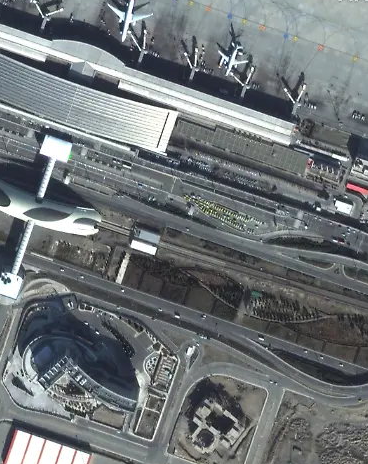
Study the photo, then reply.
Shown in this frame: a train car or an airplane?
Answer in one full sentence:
Of the two, only an airplane appears.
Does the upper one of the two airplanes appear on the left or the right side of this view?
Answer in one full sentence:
You can find the upper one of the two airplanes on the left side of the picture.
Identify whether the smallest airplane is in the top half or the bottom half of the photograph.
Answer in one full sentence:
The top half of the photo is where the smallest airplane is.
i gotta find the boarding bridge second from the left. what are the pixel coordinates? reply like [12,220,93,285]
[127,28,148,61]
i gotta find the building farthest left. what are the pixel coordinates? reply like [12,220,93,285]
[0,265,24,300]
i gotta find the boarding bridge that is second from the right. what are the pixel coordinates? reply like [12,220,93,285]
[229,64,254,97]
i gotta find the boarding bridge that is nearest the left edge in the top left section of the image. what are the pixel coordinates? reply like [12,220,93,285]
[33,0,65,30]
